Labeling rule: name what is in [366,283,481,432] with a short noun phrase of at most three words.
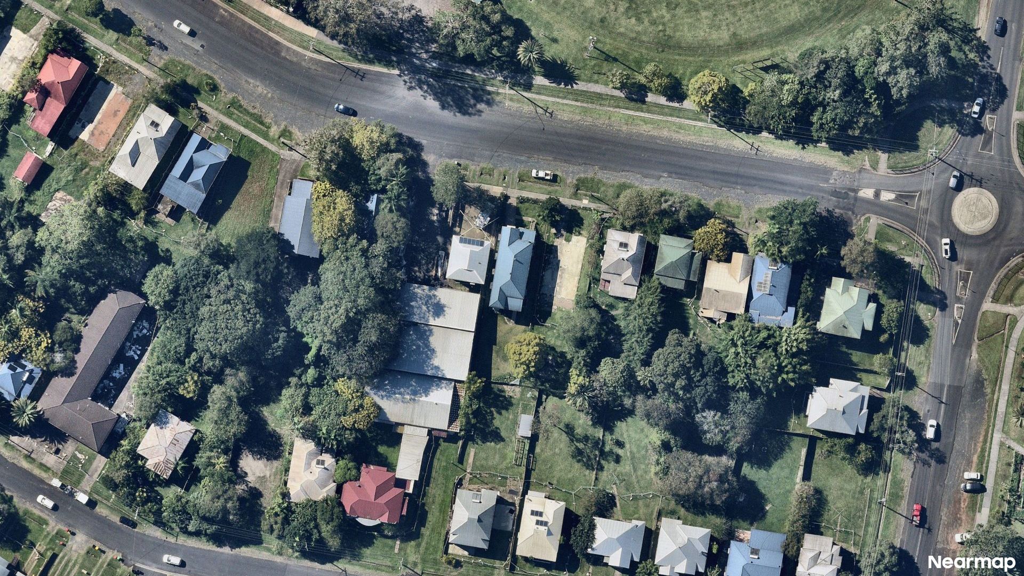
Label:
building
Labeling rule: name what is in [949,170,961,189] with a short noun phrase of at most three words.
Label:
vehicle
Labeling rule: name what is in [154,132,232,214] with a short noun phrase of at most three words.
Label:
house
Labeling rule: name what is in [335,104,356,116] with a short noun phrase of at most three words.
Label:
vehicle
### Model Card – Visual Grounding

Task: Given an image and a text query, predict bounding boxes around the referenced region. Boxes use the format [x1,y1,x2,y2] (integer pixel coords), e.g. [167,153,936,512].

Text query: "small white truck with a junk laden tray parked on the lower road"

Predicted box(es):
[50,477,91,504]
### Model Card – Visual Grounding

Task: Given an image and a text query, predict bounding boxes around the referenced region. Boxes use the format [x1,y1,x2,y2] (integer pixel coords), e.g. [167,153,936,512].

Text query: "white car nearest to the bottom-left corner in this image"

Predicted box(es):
[36,495,56,510]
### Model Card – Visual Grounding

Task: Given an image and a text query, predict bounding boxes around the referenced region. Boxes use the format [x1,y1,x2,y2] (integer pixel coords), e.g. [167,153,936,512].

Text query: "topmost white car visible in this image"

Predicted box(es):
[173,20,192,34]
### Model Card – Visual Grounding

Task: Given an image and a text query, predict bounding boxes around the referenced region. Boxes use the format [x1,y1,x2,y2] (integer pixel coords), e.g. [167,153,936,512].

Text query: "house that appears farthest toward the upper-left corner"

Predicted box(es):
[23,53,89,137]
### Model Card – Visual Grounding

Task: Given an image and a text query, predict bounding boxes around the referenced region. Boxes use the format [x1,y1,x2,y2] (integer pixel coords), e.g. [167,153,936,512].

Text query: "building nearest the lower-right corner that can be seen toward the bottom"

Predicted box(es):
[797,533,842,576]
